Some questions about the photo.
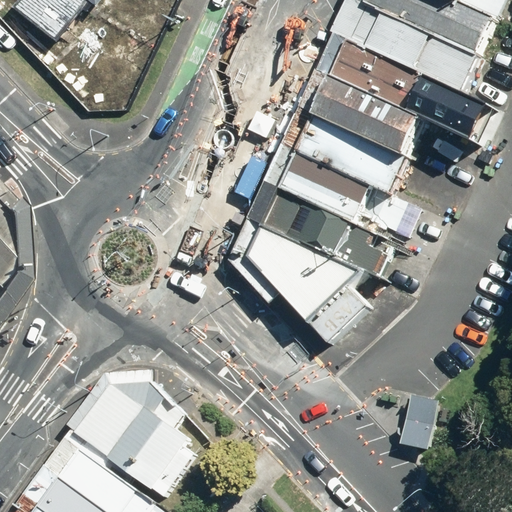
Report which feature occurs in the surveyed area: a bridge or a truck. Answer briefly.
truck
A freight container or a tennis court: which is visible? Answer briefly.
freight container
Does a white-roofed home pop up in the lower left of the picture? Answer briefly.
Yes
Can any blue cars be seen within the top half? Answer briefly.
Yes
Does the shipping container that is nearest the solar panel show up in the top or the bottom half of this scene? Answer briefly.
top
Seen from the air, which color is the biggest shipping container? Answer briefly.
blue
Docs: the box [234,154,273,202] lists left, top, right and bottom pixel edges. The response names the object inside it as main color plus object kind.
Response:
blue shipping container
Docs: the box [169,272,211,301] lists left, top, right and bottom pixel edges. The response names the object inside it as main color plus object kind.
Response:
white truck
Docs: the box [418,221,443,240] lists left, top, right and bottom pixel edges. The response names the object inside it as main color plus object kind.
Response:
white vehicle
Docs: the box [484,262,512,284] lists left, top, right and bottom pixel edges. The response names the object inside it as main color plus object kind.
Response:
white car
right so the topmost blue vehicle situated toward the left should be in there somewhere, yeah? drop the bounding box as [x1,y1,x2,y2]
[153,107,178,138]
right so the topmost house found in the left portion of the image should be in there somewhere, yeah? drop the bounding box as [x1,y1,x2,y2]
[14,0,99,42]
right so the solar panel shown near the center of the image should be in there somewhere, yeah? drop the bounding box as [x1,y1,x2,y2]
[290,204,310,232]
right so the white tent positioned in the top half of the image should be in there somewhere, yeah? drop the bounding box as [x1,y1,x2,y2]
[248,111,279,140]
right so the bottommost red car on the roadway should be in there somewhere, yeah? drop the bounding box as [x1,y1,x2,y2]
[300,402,330,420]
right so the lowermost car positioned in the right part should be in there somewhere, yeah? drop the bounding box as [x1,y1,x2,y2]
[327,478,356,509]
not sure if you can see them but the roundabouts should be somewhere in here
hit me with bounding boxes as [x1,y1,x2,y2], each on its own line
[97,226,160,288]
